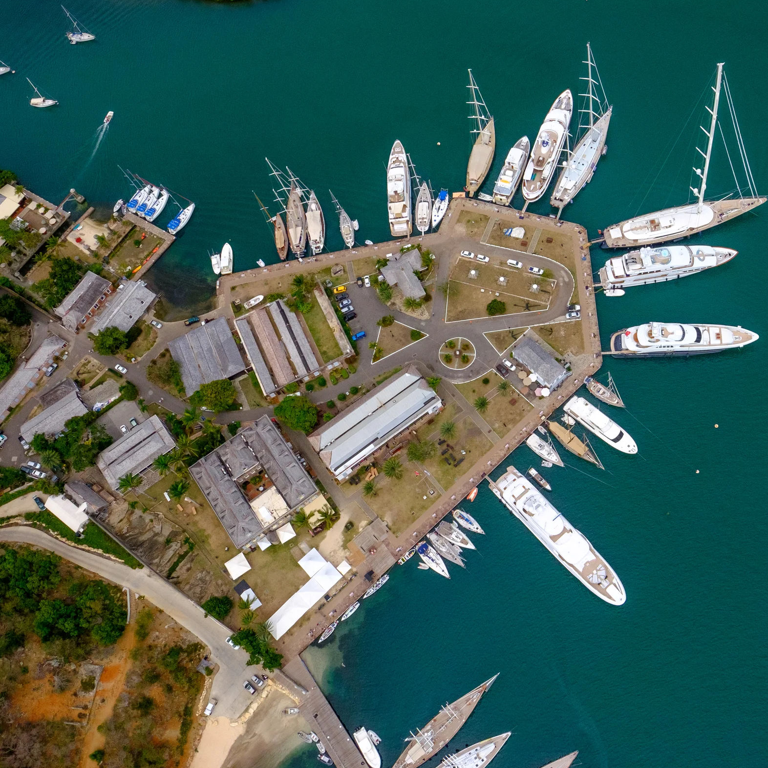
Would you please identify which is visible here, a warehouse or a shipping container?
warehouse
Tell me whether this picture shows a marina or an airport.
marina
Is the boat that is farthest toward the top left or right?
left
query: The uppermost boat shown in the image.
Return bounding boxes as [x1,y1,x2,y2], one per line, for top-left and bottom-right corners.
[57,6,95,42]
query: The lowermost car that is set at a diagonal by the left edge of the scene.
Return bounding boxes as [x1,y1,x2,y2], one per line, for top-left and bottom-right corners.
[31,495,47,512]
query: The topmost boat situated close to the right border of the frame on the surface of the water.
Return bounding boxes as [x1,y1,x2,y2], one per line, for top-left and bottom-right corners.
[580,60,767,254]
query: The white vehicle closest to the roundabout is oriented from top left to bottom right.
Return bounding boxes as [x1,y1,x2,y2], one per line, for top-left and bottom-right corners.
[502,358,518,372]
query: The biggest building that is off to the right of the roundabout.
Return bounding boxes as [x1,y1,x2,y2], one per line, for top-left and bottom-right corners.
[513,337,570,394]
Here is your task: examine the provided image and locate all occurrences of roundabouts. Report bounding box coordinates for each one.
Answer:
[439,336,476,370]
